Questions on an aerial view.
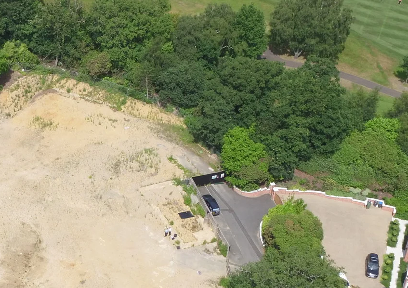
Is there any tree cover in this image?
Yes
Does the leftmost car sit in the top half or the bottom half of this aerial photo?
bottom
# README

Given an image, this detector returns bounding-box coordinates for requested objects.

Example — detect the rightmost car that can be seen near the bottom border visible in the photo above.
[364,252,380,277]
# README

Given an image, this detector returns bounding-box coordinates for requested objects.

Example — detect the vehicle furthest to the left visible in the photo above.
[201,193,222,215]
